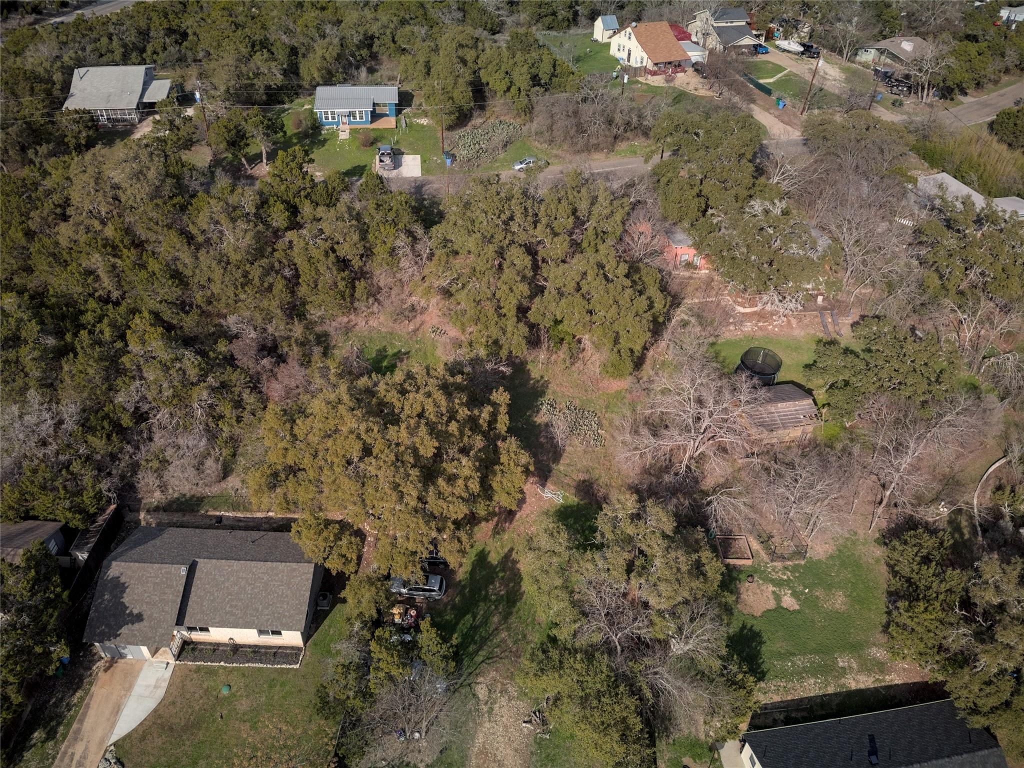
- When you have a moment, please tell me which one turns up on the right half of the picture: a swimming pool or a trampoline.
trampoline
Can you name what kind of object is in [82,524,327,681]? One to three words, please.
house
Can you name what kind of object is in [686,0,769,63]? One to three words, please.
house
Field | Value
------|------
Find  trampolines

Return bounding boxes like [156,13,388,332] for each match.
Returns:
[737,343,785,389]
